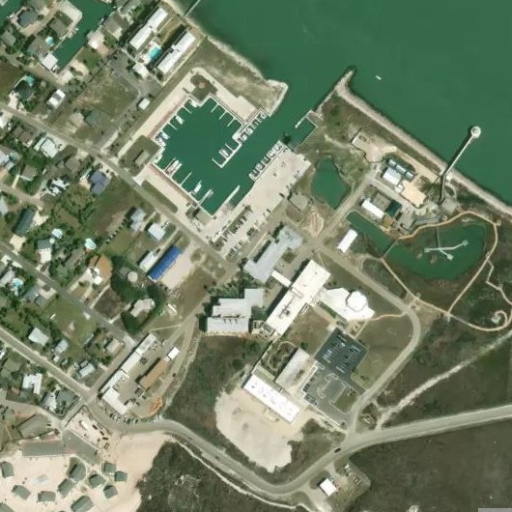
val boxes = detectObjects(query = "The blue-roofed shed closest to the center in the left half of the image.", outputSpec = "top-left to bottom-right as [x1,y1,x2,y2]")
[146,242,179,283]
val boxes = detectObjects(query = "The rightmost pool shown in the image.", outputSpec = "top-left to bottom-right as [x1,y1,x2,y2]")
[146,44,161,60]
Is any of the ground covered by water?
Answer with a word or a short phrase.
Yes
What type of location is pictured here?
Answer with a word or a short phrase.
residential area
